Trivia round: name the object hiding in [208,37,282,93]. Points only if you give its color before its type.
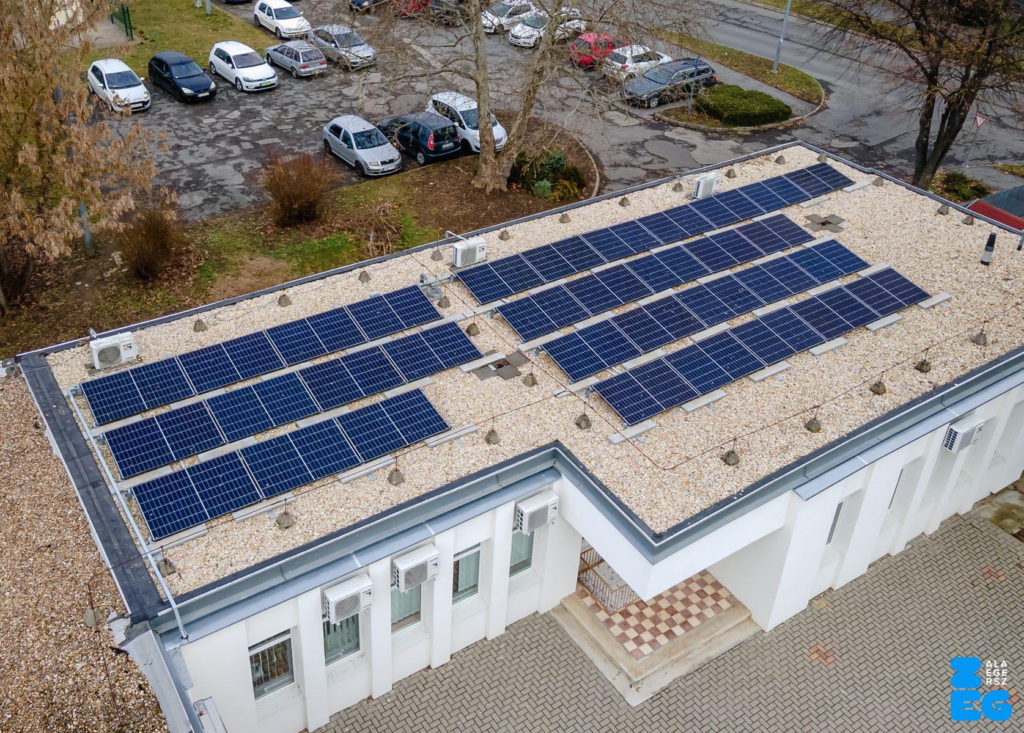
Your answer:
white car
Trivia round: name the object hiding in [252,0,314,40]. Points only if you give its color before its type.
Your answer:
white car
